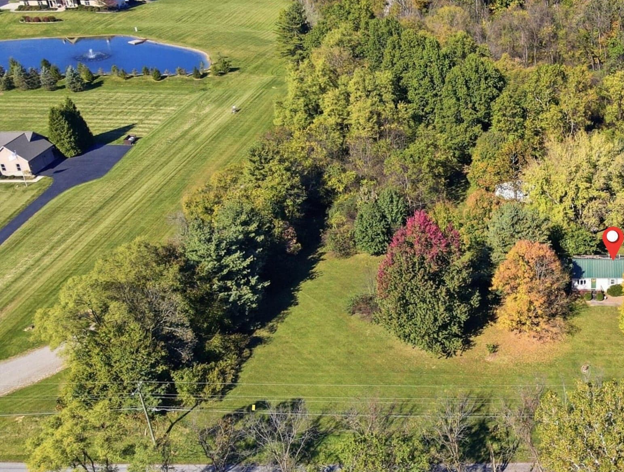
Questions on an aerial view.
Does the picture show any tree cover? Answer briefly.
Yes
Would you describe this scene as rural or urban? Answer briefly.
rural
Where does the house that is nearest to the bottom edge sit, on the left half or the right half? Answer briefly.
right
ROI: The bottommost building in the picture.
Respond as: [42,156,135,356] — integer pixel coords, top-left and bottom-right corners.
[570,255,624,293]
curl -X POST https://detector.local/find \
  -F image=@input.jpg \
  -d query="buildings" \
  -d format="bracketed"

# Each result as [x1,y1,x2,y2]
[570,255,624,293]
[0,121,65,176]
[16,0,119,9]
